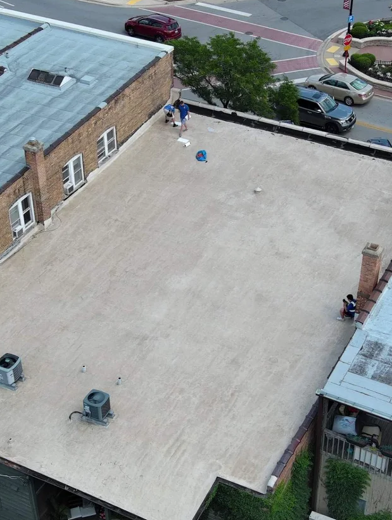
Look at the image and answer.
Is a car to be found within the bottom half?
No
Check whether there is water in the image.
No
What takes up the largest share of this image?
buildings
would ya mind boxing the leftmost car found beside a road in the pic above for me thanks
[120,10,181,40]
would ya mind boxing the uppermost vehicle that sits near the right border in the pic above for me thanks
[306,69,374,105]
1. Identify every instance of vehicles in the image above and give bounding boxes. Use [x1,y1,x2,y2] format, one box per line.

[354,130,392,145]
[277,83,360,133]
[120,10,181,40]
[306,69,374,105]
